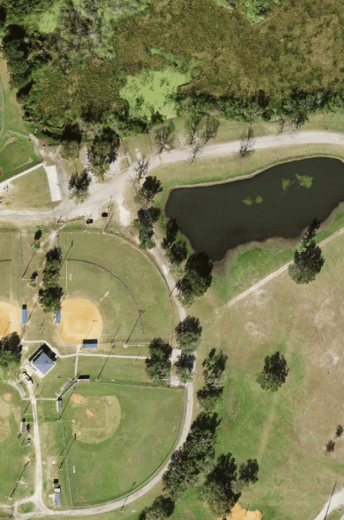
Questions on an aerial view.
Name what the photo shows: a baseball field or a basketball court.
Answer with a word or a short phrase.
baseball field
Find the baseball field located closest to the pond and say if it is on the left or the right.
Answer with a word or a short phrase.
left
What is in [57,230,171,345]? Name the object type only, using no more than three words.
baseball field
